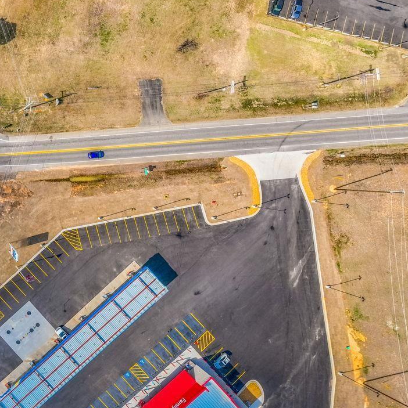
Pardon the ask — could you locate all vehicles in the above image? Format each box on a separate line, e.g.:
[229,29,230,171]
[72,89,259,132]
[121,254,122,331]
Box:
[55,325,66,338]
[88,151,105,158]
[213,351,232,368]
[271,0,282,14]
[289,0,302,19]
